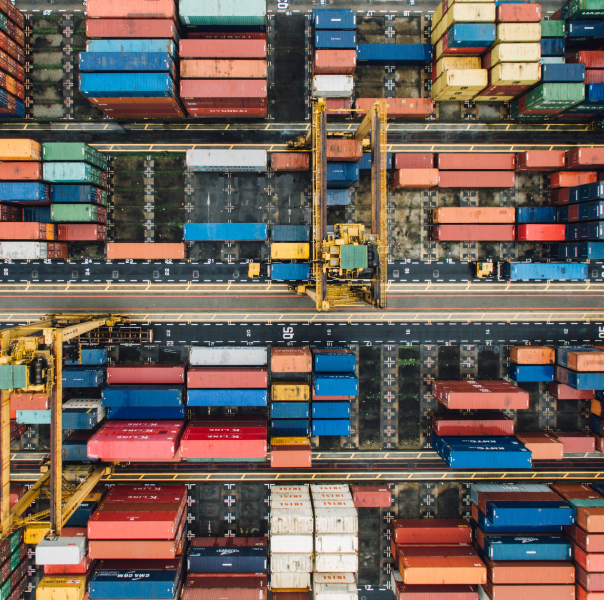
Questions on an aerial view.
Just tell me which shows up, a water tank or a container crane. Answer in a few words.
container crane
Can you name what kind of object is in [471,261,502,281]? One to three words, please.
vehicle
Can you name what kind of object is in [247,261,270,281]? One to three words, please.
vehicle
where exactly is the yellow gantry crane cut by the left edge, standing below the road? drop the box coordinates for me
[0,313,124,545]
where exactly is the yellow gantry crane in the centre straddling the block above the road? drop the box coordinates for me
[287,94,388,309]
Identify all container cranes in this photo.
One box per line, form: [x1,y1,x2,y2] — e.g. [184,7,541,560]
[0,313,124,545]
[287,94,388,309]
